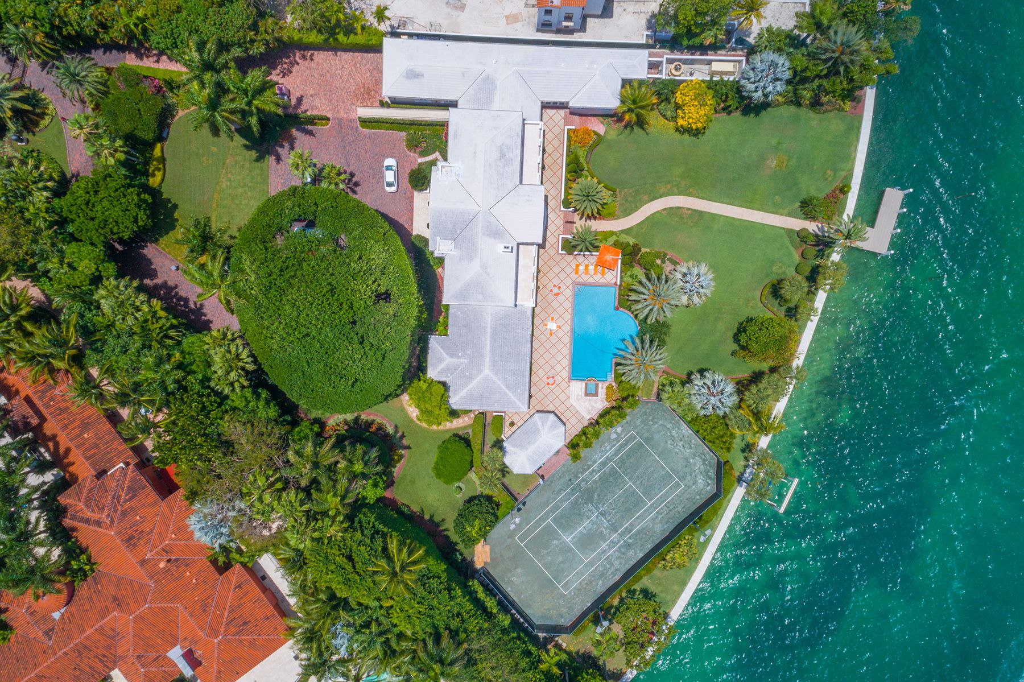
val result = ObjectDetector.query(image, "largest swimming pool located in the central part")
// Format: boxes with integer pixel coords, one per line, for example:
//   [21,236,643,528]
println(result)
[569,282,640,383]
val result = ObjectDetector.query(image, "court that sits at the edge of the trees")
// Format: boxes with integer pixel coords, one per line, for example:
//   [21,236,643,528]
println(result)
[483,399,716,625]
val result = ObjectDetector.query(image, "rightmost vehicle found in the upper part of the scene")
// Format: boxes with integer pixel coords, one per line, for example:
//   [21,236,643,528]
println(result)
[382,158,398,192]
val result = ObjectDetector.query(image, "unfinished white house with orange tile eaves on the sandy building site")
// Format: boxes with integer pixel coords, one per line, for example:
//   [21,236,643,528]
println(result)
[536,0,604,33]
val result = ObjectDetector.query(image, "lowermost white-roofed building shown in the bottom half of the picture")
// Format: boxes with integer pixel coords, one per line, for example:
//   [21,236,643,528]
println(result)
[503,412,566,474]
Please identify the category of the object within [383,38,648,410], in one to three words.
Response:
house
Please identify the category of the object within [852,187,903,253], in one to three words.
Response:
pier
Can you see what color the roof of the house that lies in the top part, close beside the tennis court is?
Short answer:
white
